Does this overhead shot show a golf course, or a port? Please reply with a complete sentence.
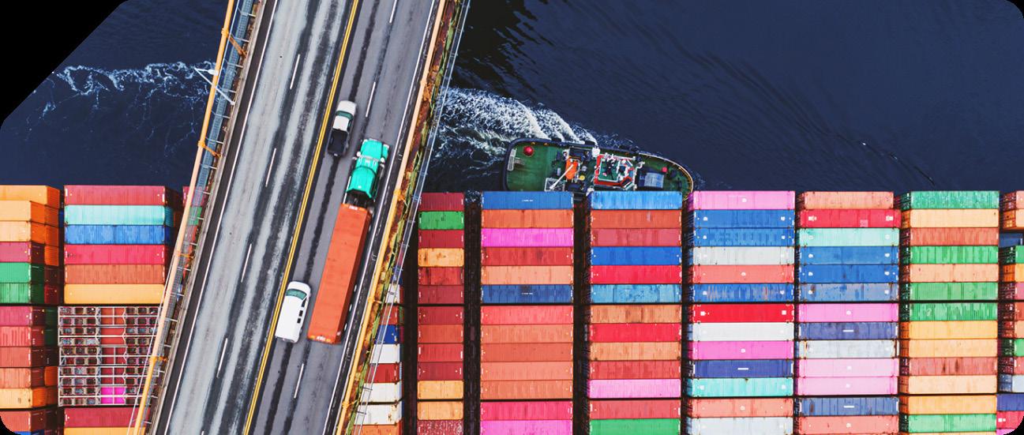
It's a port.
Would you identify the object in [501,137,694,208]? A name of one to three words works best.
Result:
boat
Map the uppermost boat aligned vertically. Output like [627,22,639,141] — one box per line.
[565,159,578,182]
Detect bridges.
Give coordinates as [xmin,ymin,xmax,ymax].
[128,0,472,435]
